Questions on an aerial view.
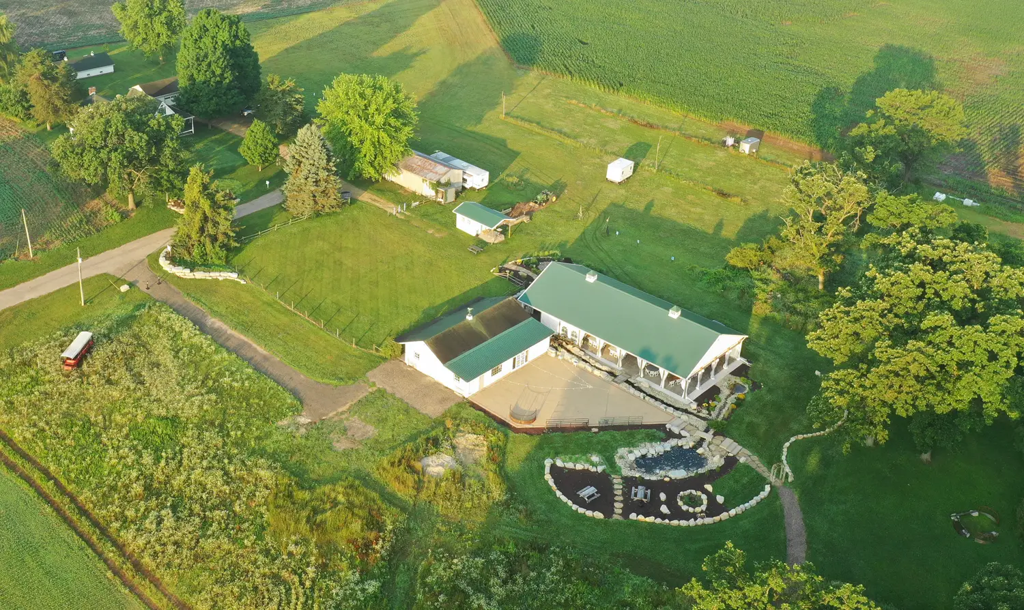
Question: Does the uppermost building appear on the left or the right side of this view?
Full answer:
The uppermost building sits on the left side.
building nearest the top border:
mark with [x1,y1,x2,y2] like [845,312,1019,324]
[48,49,115,80]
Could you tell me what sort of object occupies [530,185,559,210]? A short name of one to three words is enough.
work vehicle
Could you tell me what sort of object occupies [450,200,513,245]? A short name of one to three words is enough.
shed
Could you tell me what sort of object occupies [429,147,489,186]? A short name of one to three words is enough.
vehicle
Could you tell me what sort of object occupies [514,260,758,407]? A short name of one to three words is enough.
building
